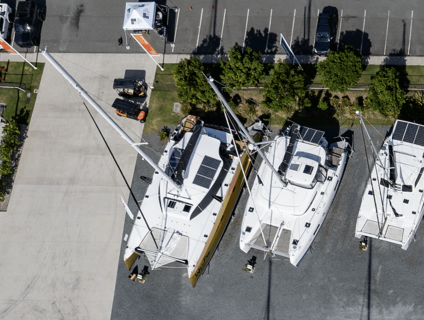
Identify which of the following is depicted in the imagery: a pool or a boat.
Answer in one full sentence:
The one in the frame is a boat.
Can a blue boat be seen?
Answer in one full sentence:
No, the frame has no blue boat in it.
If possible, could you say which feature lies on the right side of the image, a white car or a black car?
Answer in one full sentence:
It is a black car that can be seen on the right side of the image.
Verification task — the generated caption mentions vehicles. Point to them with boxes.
[0,0,12,39]
[112,78,153,102]
[11,0,44,50]
[312,7,339,56]
[111,97,154,127]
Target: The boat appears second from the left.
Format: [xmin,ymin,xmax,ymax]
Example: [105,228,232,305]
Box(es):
[207,75,349,259]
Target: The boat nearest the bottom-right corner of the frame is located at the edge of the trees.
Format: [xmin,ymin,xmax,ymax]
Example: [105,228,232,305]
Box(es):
[355,110,424,248]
